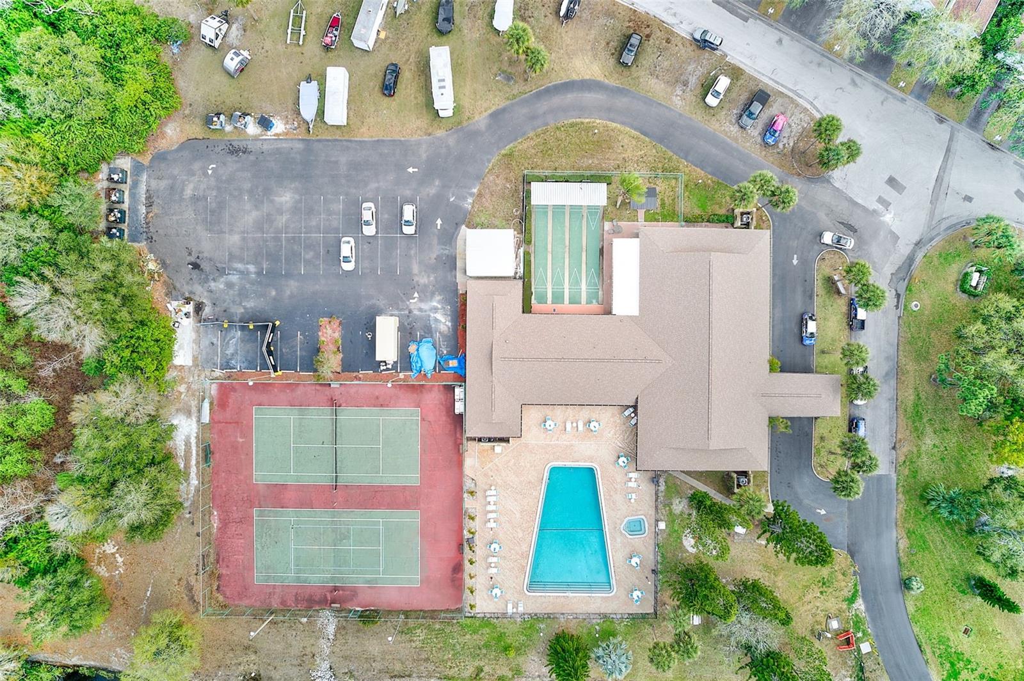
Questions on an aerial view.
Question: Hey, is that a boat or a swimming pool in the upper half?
boat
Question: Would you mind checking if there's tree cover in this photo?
Yes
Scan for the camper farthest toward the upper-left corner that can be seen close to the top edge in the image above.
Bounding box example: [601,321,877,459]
[203,12,229,46]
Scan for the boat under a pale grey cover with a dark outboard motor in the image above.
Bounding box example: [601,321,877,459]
[300,74,317,123]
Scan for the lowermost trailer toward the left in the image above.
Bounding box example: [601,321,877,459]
[376,317,399,371]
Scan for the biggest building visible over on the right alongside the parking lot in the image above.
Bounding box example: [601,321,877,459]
[466,228,840,473]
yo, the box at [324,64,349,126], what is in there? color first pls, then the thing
white trailer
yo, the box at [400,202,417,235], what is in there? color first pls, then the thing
white car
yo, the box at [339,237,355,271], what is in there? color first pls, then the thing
white car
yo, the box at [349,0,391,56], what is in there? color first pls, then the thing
white trailer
